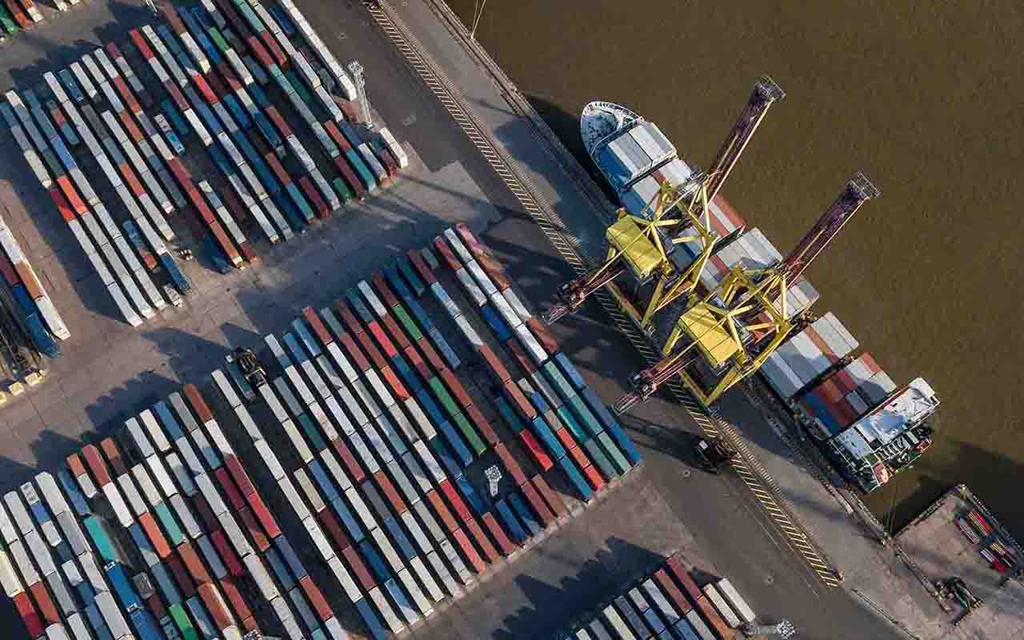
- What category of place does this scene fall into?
port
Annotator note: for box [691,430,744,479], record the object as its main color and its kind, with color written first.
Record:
black work vehicle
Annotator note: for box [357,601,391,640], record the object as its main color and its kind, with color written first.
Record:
blue shipping container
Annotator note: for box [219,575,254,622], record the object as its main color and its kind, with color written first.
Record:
red shipping container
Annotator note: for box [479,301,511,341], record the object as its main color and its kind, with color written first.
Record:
blue shipping container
